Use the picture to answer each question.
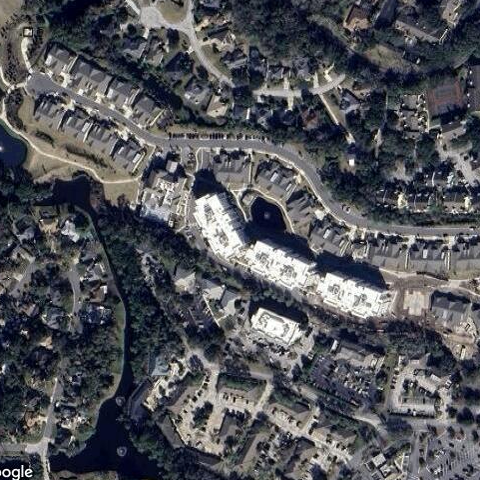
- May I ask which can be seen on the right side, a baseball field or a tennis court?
tennis court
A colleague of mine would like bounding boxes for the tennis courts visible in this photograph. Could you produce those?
[426,80,465,114]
